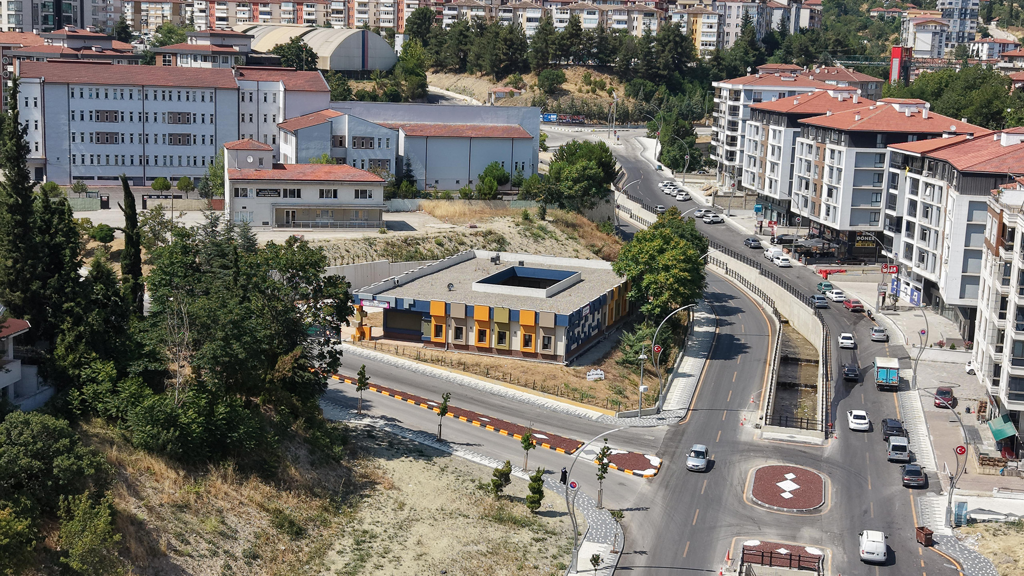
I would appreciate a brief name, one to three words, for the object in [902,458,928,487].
car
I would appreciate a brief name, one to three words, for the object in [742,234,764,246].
vehicle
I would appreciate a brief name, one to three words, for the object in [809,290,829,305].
car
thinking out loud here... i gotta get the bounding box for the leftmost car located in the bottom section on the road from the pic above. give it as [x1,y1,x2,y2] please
[687,440,712,470]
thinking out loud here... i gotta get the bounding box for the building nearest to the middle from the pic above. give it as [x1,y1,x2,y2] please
[353,248,632,365]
